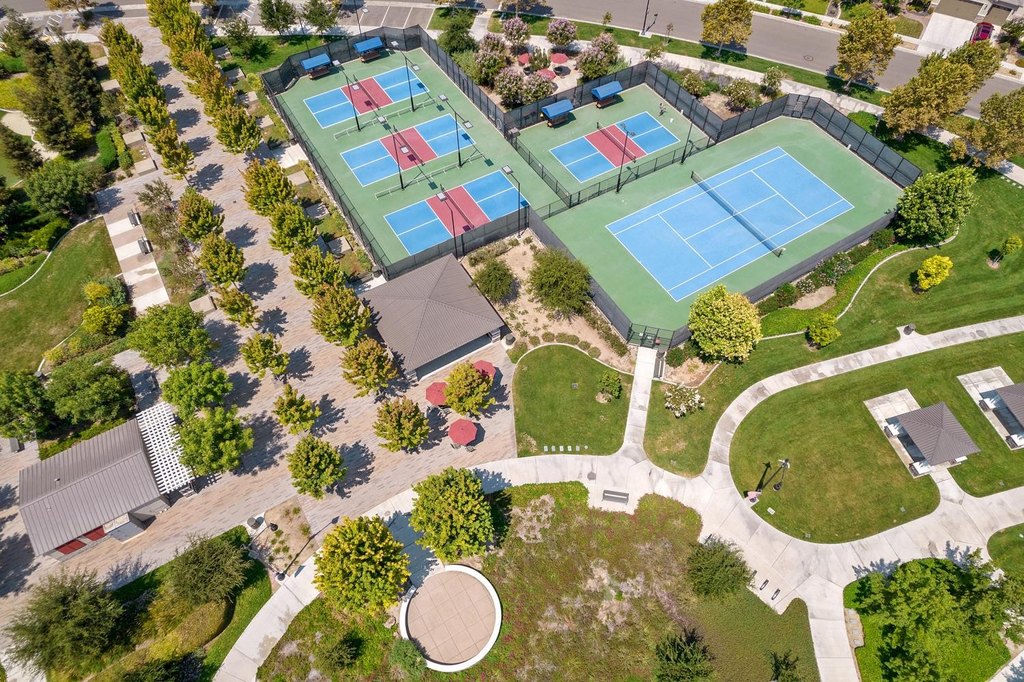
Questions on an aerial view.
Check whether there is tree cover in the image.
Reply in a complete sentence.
Yes, the picture does contain tree cover.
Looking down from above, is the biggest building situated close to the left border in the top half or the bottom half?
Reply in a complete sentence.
The biggest building situated close to the left border is in the bottom half of the image.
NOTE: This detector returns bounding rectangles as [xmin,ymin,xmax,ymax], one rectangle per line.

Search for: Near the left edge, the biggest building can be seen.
[15,419,174,564]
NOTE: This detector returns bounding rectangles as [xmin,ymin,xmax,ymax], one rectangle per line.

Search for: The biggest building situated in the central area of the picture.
[359,252,509,400]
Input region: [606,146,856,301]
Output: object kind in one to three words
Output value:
tennis court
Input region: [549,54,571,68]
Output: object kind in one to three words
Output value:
umbrella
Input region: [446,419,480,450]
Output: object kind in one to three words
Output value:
umbrella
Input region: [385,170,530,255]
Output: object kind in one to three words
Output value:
sports court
